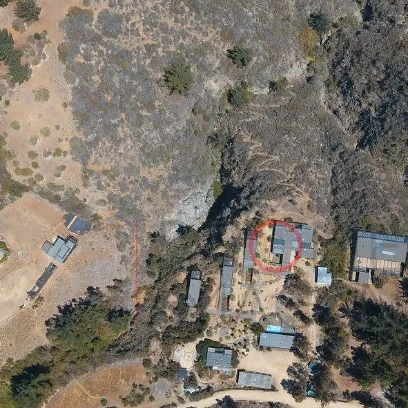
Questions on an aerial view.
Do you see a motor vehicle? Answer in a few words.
No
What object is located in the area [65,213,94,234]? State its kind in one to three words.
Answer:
shed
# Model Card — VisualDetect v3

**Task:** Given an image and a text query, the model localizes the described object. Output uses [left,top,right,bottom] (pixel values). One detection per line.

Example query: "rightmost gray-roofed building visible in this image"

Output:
[352,231,408,284]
